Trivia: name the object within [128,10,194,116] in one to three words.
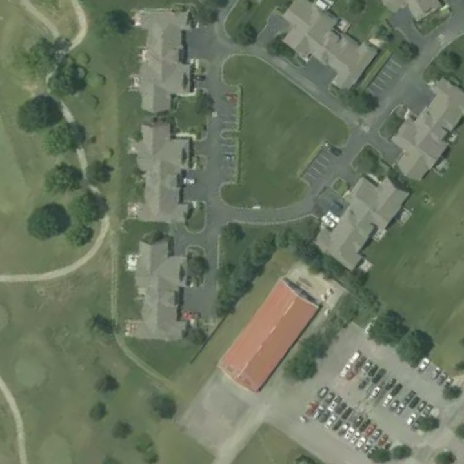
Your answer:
house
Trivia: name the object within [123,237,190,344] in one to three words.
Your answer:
house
